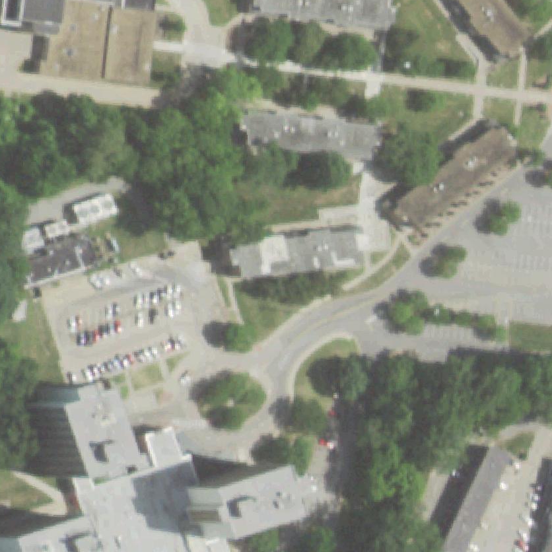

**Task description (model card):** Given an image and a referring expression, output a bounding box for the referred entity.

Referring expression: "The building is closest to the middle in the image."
[224,228,364,278]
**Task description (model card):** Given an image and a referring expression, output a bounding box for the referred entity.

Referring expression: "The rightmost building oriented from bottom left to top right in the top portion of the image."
[388,126,517,224]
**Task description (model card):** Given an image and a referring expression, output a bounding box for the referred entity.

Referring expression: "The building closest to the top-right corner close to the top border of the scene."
[447,0,533,58]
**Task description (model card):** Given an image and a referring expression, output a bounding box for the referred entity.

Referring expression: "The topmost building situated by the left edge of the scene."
[0,0,156,86]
